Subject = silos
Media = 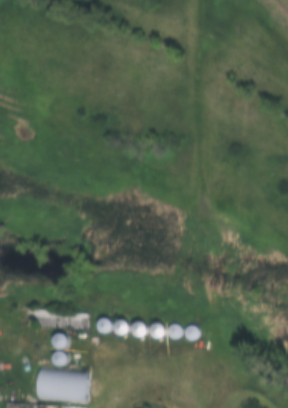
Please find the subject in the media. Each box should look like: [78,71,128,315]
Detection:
[148,322,167,340]
[167,324,184,340]
[96,317,114,334]
[130,321,149,340]
[51,332,70,350]
[184,324,202,342]
[112,320,131,337]
[52,350,71,368]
